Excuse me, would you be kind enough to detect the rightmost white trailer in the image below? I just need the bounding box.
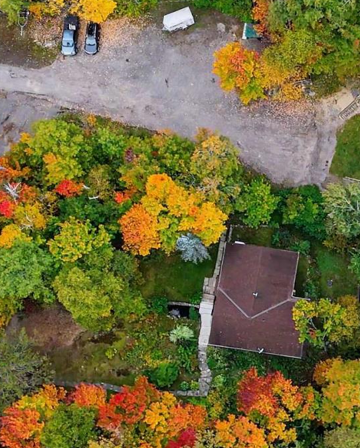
[161,5,197,34]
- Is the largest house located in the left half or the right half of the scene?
right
